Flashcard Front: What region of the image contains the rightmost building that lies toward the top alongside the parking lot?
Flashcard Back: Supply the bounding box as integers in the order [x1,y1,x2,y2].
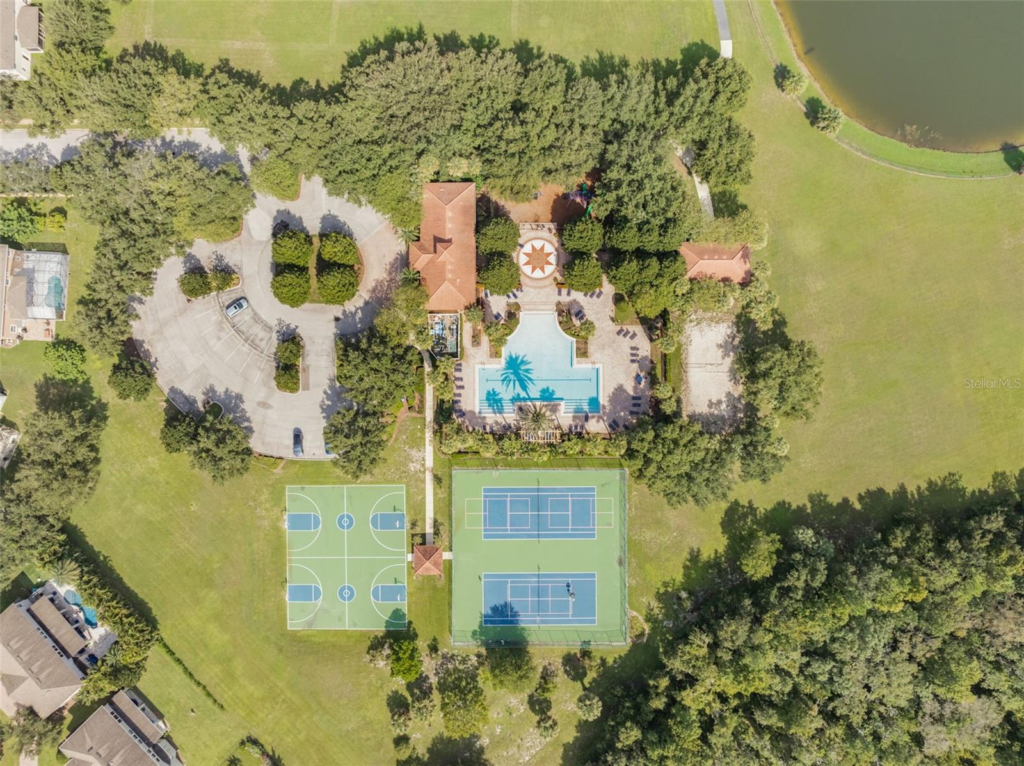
[409,182,476,311]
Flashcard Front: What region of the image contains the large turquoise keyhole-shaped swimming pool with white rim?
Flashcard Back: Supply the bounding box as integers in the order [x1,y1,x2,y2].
[477,311,602,416]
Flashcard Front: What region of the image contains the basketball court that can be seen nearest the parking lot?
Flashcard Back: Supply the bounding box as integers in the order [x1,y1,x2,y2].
[287,485,406,558]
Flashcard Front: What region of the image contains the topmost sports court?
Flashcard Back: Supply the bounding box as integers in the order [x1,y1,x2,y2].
[681,310,745,429]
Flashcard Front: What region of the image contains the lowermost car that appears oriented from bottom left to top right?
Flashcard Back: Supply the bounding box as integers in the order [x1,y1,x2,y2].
[224,298,247,316]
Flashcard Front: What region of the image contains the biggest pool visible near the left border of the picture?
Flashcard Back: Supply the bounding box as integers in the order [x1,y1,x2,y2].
[43,274,65,308]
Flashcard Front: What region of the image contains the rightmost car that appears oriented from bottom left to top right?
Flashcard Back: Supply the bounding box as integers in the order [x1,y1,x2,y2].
[269,217,290,237]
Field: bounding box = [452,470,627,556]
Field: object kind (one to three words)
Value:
tennis court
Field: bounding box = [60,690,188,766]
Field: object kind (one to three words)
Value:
house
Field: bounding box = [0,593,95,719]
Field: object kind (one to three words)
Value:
house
